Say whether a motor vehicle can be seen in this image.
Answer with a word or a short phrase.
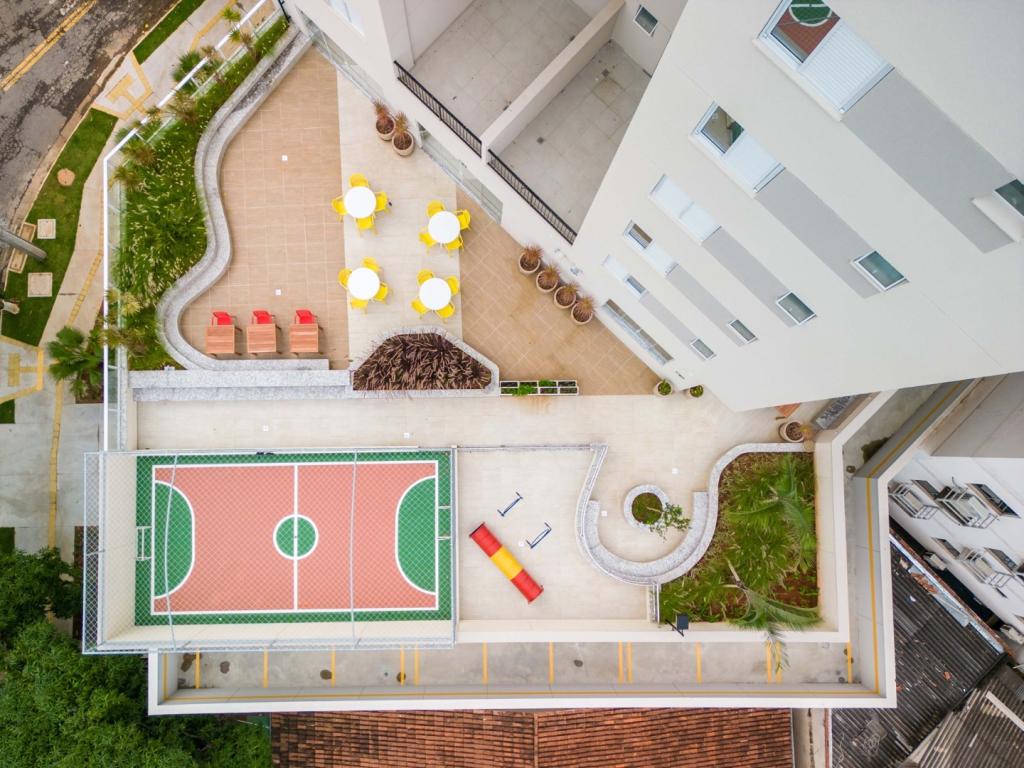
No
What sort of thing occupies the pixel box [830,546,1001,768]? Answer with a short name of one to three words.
shed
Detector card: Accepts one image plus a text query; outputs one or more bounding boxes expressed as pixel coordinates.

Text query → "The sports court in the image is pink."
[135,452,452,626]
